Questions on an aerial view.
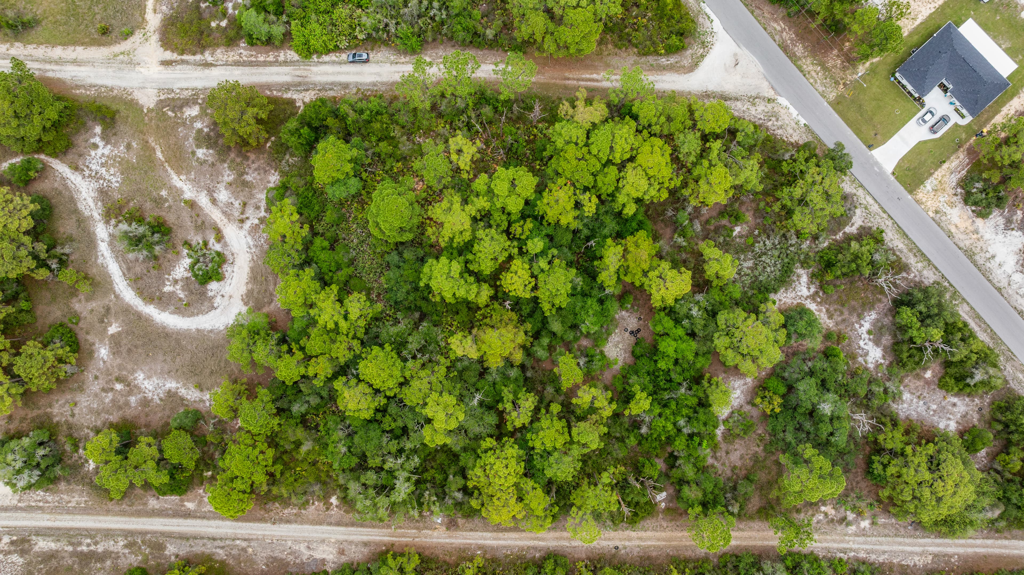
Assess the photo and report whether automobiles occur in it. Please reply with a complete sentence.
Yes, there is an automobile in the image.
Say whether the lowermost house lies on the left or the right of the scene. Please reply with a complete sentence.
The lowermost house is on the right side of the image.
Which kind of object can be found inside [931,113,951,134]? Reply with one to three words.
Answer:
car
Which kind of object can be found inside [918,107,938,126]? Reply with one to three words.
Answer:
car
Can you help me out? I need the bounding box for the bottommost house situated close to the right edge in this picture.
[896,20,1012,120]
